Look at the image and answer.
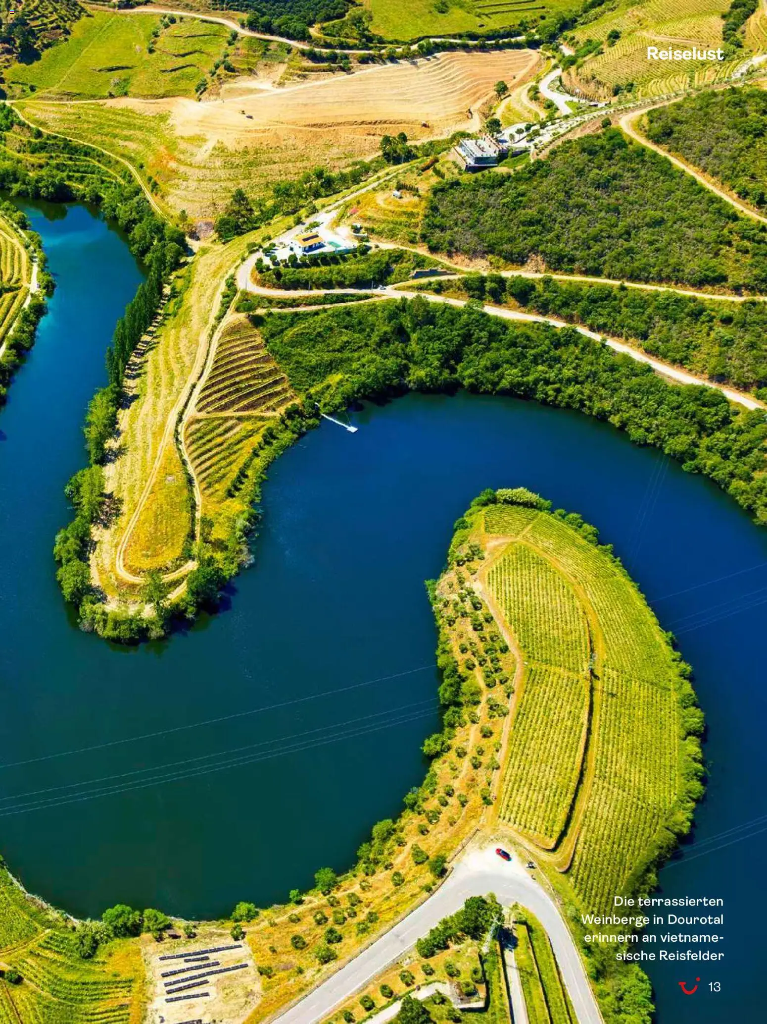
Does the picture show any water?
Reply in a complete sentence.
Yes, there's water in this view.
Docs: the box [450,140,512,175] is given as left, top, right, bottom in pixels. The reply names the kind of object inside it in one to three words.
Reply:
building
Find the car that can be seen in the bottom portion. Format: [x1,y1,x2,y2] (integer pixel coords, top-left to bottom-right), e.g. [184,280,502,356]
[495,845,513,860]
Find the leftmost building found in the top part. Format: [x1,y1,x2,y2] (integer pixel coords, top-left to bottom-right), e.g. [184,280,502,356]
[298,232,332,252]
